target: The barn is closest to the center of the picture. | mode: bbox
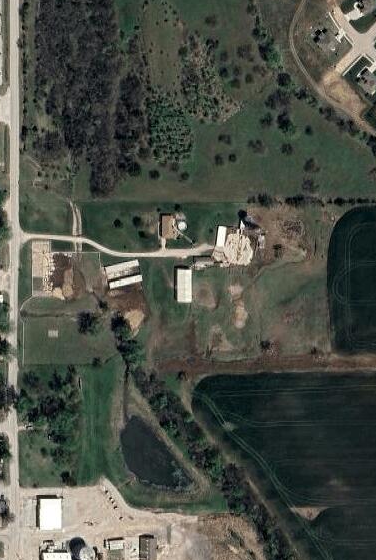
[178,270,193,302]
